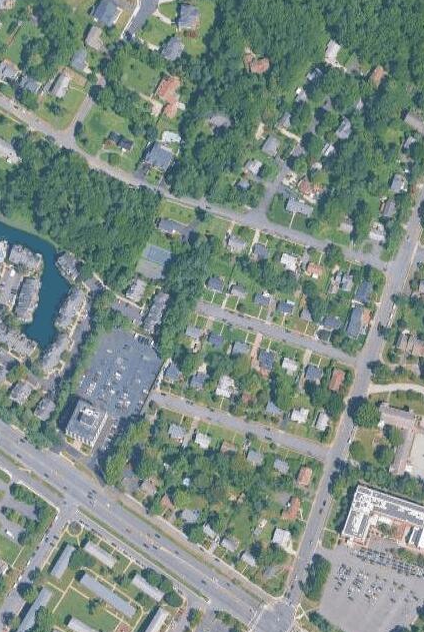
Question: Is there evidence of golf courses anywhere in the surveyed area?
No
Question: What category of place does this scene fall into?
residential area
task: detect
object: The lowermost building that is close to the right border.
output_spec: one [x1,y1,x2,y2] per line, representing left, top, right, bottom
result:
[343,485,424,549]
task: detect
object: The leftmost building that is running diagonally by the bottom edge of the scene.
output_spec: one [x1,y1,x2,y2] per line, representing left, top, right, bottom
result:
[15,586,54,632]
